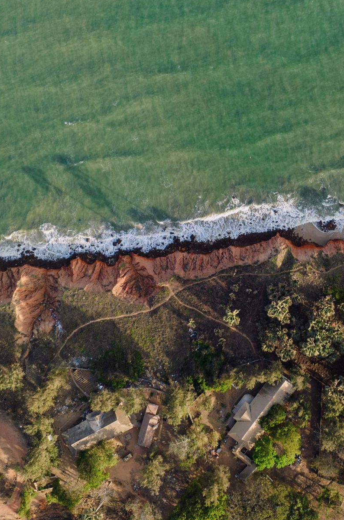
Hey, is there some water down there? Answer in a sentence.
Yes, there's water in this view.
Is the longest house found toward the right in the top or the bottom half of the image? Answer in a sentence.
The longest house found toward the right is in the bottom half of the image.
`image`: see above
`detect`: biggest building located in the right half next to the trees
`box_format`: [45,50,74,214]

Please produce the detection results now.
[228,373,294,451]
